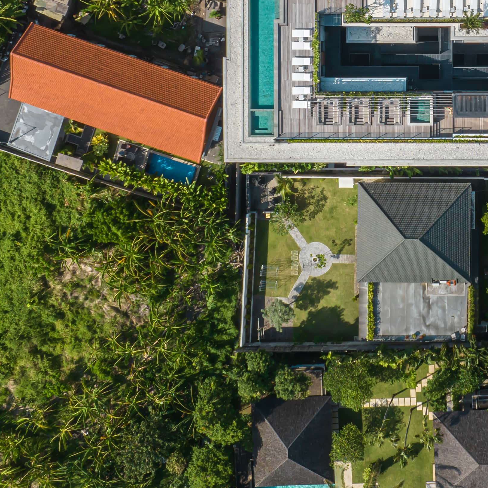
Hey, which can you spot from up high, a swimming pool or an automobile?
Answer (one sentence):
The one in the frame is a swimming pool.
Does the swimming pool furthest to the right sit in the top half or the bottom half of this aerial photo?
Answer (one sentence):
Seen from above, the swimming pool furthest to the right lies in the top half of the view.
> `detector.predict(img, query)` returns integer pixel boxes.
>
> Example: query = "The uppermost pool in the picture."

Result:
[252,0,280,110]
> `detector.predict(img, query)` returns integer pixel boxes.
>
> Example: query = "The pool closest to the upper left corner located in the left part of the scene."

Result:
[144,150,200,178]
